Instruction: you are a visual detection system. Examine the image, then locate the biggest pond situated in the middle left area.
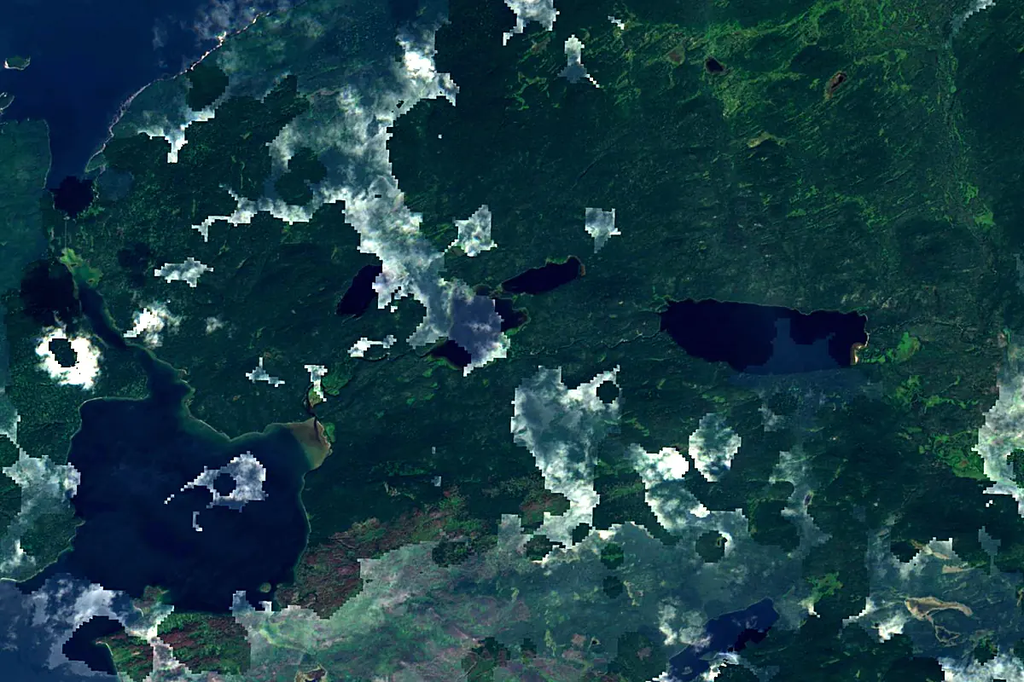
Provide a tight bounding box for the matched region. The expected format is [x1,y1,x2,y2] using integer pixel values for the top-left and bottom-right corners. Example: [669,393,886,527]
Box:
[18,258,82,328]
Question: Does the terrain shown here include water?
Yes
